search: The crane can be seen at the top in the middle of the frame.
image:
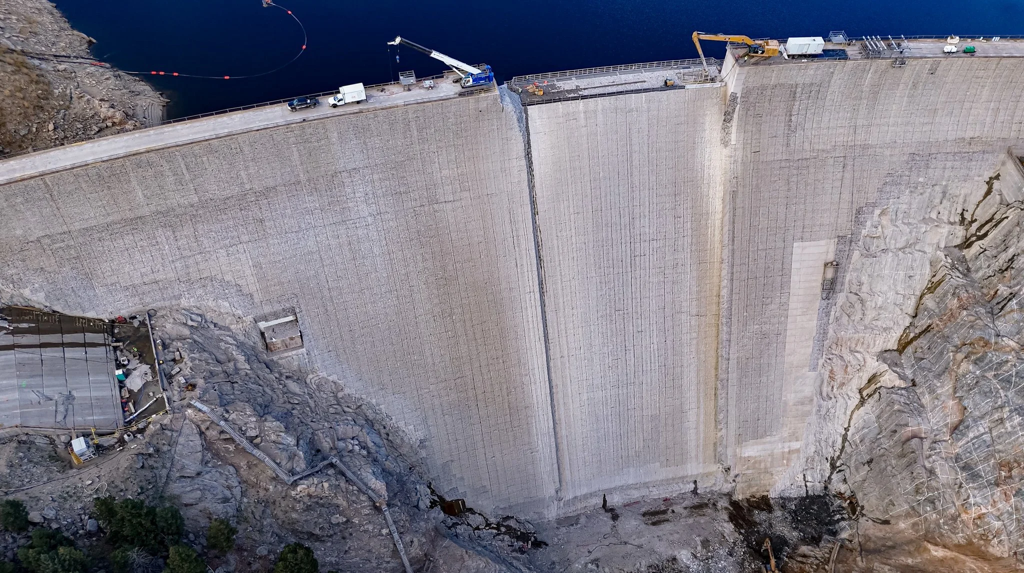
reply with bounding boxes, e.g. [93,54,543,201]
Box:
[388,38,495,90]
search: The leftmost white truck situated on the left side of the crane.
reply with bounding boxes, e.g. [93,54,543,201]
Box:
[328,81,373,106]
